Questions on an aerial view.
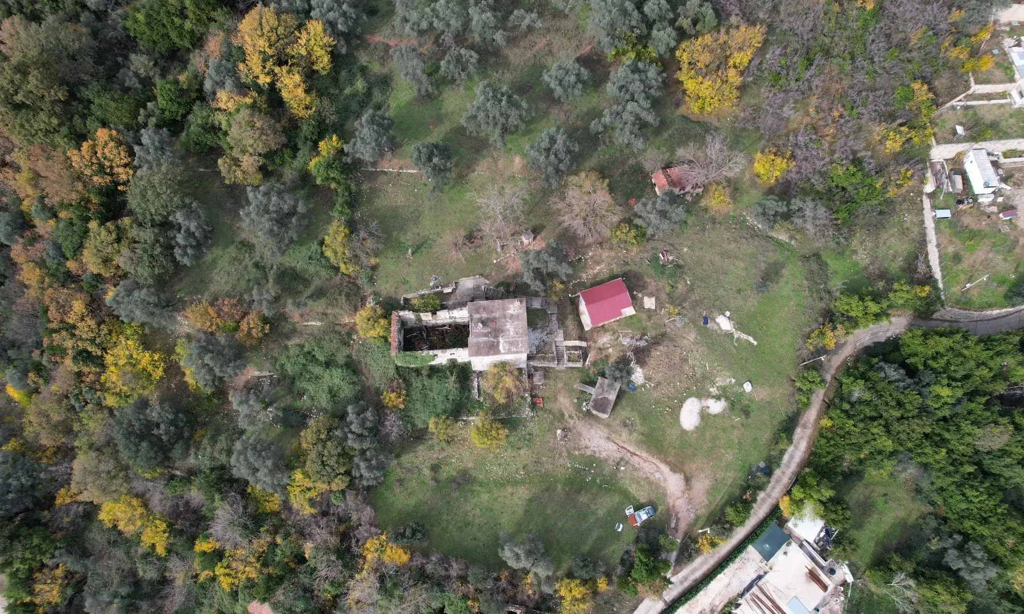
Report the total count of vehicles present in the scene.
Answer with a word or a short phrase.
1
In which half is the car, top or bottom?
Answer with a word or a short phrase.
bottom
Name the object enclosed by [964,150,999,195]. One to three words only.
shed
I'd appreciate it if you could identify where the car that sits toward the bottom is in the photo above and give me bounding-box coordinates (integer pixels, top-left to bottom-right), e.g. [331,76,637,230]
[626,503,657,526]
